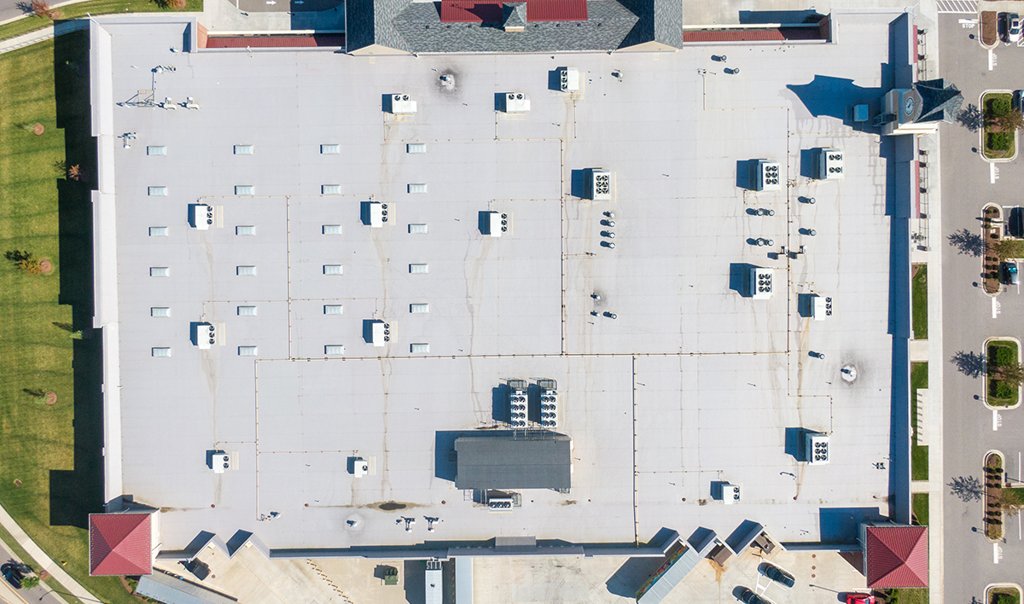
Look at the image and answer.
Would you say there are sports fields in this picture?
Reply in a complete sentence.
No, I can't see a single sports field in this photo.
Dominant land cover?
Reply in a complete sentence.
The bulk of the photo consists of buildings.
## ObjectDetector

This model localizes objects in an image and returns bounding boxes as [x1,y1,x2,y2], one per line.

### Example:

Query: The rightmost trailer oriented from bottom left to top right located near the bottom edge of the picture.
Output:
[609,541,702,604]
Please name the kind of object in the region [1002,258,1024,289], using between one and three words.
car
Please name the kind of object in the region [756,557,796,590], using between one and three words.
car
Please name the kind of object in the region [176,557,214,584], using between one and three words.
truck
